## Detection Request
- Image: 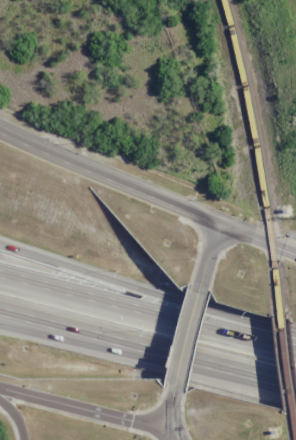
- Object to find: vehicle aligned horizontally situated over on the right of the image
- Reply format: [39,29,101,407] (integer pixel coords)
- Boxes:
[216,328,256,342]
